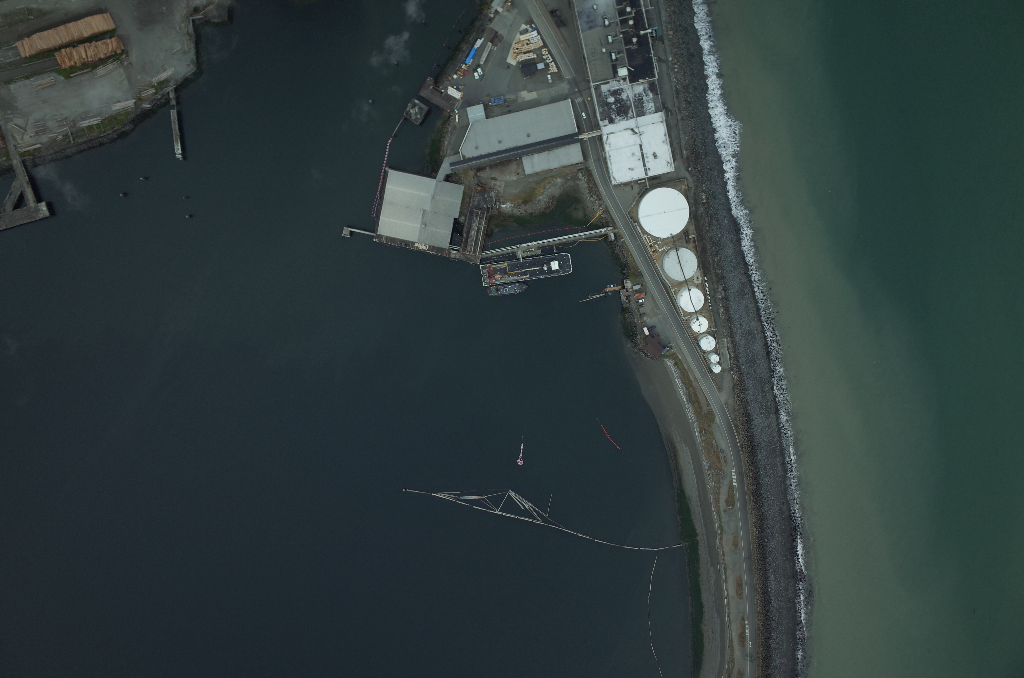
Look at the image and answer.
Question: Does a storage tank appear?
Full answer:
Yes, the image includes a storage tank.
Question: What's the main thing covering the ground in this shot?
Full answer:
The largest share of the image is taken up by water.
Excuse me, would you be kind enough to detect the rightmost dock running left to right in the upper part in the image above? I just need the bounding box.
[481,225,618,258]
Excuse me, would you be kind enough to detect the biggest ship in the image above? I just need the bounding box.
[480,253,573,286]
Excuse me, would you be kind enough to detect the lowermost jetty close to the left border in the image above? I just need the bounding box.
[0,144,55,231]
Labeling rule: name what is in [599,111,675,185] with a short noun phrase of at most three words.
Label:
building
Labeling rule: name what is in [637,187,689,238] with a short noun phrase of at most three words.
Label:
storage tank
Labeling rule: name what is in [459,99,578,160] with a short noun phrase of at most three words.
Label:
building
